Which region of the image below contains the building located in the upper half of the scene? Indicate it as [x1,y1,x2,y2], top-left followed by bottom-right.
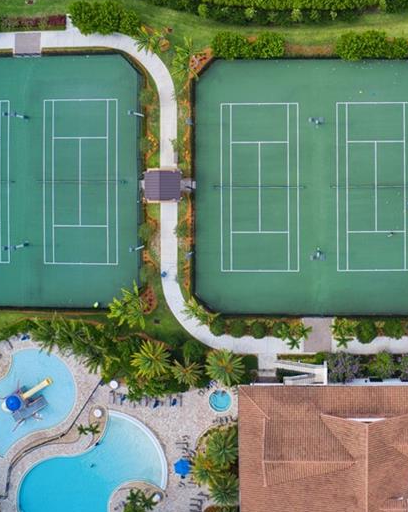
[144,168,185,204]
